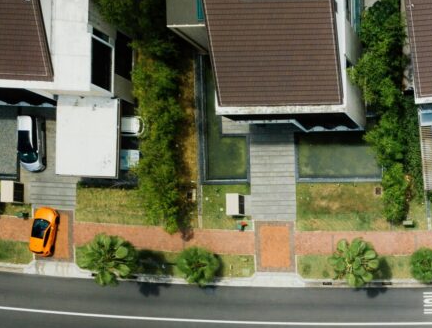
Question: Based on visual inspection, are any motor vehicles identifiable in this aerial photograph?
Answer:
Yes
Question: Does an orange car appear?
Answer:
Yes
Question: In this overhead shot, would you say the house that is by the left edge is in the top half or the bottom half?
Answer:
top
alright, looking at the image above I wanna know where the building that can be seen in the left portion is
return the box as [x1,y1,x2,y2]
[0,0,137,180]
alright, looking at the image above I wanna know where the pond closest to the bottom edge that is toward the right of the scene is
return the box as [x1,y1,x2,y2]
[296,129,382,182]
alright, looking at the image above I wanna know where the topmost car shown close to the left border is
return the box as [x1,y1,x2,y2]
[13,115,48,173]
